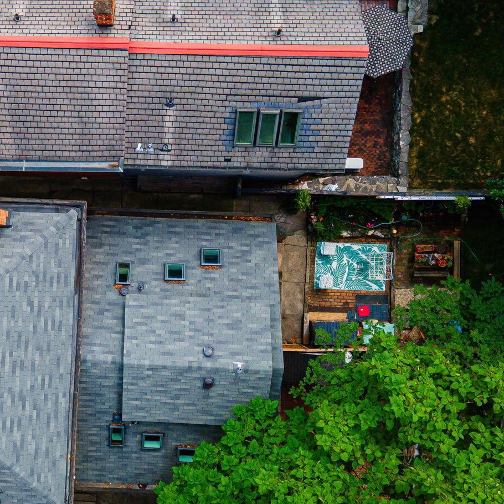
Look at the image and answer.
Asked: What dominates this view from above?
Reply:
buildings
